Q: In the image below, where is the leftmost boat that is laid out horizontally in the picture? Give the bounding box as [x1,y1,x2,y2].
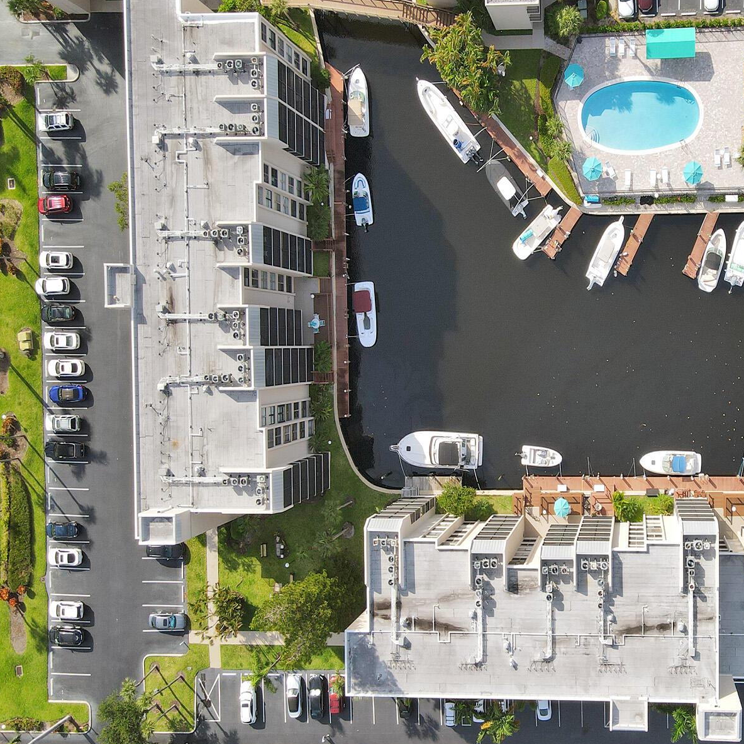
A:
[388,433,485,469]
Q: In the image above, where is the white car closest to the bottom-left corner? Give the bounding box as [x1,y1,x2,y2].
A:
[50,600,87,621]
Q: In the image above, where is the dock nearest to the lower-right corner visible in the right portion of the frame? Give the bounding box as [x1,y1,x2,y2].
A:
[524,476,744,492]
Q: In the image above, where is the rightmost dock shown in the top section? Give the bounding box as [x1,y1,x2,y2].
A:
[683,212,719,278]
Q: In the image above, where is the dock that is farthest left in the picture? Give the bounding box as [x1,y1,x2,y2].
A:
[324,62,350,417]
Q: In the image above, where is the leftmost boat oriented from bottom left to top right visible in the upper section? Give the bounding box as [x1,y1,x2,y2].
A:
[516,197,568,258]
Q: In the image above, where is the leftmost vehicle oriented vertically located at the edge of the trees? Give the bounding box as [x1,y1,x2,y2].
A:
[239,680,258,724]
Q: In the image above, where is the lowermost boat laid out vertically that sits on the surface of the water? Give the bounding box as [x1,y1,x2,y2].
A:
[354,282,378,347]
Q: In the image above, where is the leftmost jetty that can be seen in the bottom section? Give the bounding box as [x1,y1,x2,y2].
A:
[406,476,462,492]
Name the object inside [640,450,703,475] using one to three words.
boat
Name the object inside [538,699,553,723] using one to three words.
car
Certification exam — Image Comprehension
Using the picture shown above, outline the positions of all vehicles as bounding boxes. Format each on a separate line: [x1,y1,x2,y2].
[149,612,187,632]
[52,384,86,404]
[41,250,74,269]
[45,170,83,191]
[328,670,347,720]
[285,674,304,718]
[239,680,258,724]
[308,676,327,719]
[146,542,185,562]
[45,441,88,462]
[538,699,553,723]
[39,112,77,133]
[50,358,87,378]
[46,521,83,541]
[498,699,513,715]
[42,304,77,323]
[46,414,84,434]
[397,697,414,722]
[35,276,73,296]
[442,698,459,730]
[38,195,75,215]
[48,548,85,568]
[45,331,83,351]
[50,600,87,621]
[618,0,633,13]
[50,626,87,647]
[638,0,653,8]
[703,0,719,9]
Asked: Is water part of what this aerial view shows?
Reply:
Yes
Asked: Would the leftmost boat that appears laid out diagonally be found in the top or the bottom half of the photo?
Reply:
top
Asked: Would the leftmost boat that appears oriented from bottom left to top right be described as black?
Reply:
No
